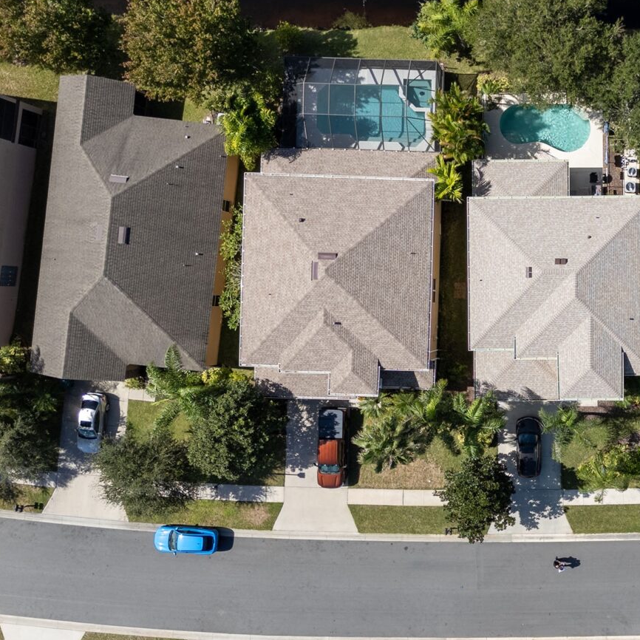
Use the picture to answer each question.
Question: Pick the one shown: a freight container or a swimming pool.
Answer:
swimming pool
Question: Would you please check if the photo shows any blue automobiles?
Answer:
Yes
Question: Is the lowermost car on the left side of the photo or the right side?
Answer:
left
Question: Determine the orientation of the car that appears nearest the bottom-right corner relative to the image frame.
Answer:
vertically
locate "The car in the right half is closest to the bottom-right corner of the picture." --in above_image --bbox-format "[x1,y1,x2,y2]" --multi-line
[513,416,545,478]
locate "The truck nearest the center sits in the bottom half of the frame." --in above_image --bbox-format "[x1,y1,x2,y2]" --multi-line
[314,407,350,485]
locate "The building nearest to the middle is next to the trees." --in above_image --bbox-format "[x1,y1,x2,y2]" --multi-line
[238,149,441,400]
